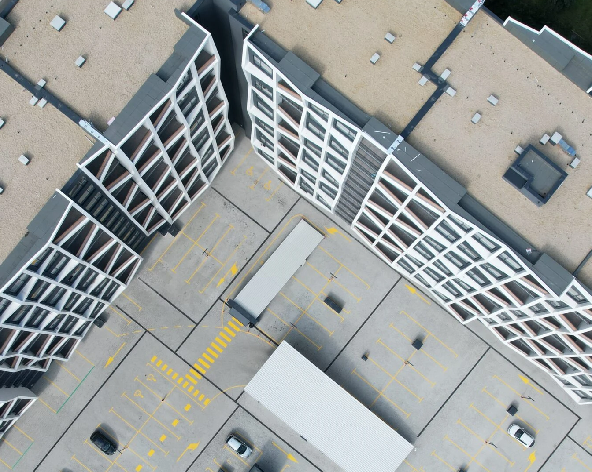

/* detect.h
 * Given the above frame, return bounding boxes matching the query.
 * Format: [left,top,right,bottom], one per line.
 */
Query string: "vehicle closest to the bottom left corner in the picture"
[85,428,120,460]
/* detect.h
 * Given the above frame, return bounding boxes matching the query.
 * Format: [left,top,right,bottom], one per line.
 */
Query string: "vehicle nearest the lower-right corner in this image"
[507,422,539,451]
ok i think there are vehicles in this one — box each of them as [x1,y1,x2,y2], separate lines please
[85,428,120,460]
[507,422,539,451]
[223,433,253,460]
